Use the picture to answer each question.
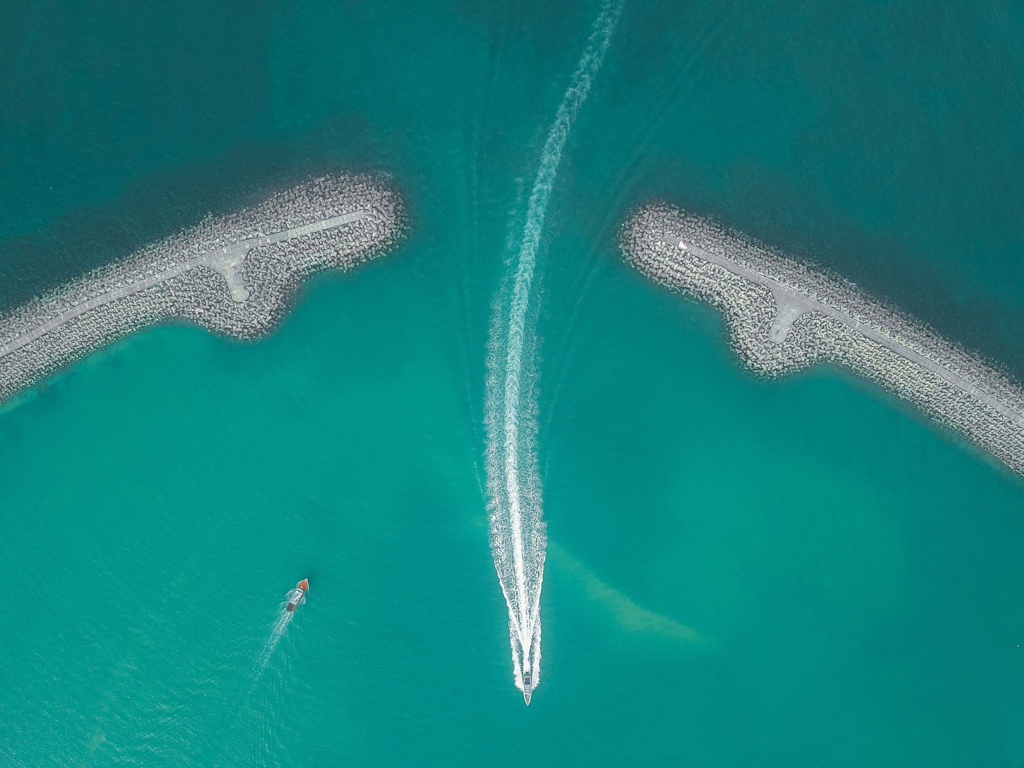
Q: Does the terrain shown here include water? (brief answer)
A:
Yes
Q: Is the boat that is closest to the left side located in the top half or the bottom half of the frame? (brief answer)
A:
bottom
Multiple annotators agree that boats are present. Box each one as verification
[287,578,309,613]
[524,673,531,706]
